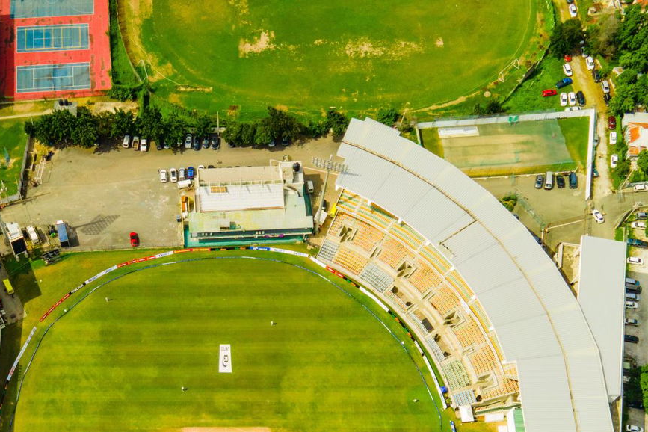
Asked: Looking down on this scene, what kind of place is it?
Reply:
sports ground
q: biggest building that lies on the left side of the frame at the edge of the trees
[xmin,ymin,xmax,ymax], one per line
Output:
[184,160,313,255]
